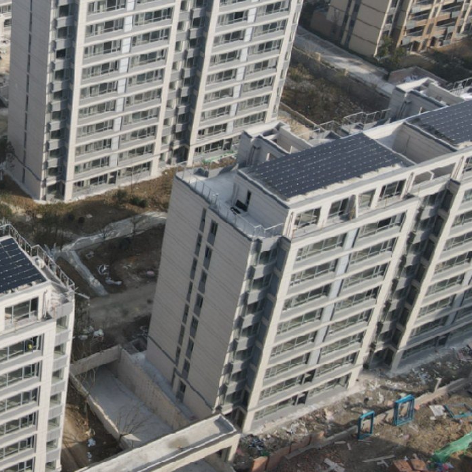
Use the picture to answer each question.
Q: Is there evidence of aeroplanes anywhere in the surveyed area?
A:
No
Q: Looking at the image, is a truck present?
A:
No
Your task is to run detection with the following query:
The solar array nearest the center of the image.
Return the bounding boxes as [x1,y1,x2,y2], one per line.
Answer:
[245,133,404,200]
